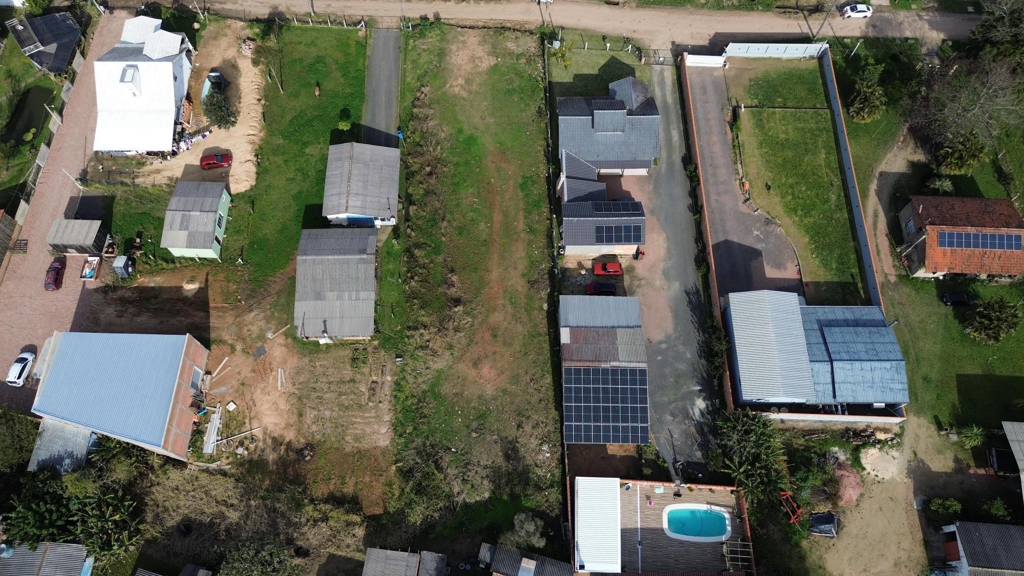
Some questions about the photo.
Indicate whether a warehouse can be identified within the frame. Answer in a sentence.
Yes, there's a warehouse down there.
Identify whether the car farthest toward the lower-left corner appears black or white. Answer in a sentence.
In this view, the car farthest toward the lower-left corner is white.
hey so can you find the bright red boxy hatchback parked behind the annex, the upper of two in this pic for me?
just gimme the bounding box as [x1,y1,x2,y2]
[593,260,624,277]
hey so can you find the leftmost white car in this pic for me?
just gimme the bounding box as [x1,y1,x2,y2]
[0,350,36,388]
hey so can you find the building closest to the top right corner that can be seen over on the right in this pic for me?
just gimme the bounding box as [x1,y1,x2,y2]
[899,195,1024,284]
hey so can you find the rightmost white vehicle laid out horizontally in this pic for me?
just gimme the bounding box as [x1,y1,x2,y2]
[841,2,876,19]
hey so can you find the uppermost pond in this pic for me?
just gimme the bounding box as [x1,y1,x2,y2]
[4,86,52,145]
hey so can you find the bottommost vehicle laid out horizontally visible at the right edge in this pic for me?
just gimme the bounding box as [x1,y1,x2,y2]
[940,290,979,308]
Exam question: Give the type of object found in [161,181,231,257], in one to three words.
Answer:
building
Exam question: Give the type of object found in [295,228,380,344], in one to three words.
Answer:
barn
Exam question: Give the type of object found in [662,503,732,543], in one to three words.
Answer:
swimming pool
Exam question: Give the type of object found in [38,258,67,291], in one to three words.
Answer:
car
